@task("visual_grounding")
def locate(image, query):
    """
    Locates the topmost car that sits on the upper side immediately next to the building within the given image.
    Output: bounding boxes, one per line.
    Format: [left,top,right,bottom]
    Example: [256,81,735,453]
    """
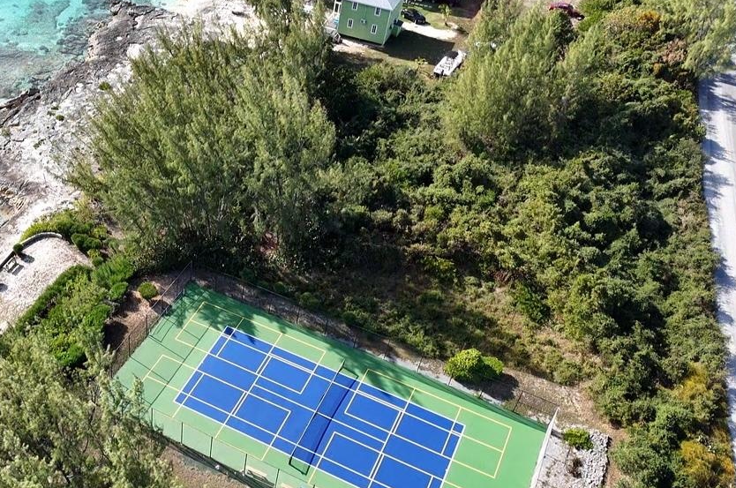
[403,8,428,24]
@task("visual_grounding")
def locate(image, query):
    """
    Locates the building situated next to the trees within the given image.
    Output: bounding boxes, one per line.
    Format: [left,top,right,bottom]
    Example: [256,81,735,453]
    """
[322,0,409,46]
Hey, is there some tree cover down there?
Yes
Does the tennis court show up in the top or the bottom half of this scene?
bottom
